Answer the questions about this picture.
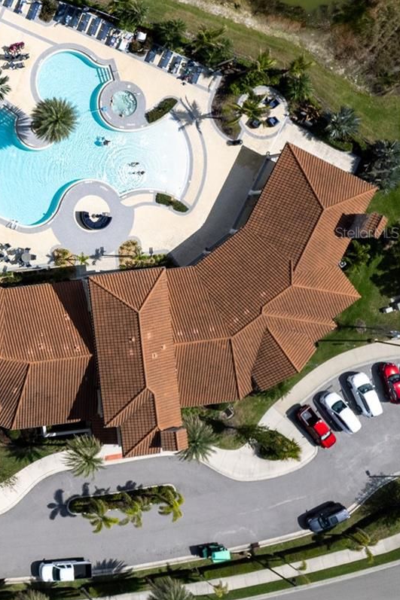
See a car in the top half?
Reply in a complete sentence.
No, the scene shows no car in the top half.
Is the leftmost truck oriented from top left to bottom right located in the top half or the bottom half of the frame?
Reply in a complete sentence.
It is in the bottom half that the leftmost truck oriented from top left to bottom right appears.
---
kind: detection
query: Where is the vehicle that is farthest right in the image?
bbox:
[382,360,400,404]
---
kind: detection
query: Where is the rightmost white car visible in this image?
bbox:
[351,374,386,418]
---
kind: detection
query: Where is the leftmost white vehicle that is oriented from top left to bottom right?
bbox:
[326,392,364,434]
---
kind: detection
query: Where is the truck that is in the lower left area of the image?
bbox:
[41,561,94,586]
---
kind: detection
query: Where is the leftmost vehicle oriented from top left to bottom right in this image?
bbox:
[299,404,341,449]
